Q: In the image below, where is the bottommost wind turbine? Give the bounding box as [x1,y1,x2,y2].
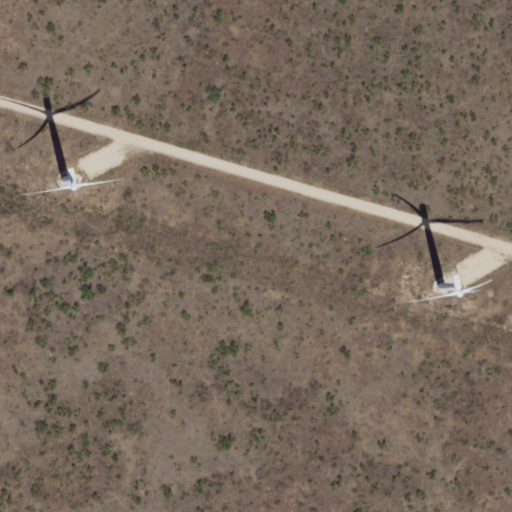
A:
[406,276,506,306]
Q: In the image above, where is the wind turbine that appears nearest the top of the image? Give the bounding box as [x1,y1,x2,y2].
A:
[28,168,126,192]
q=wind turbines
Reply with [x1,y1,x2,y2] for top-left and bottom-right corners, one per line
[406,276,506,306]
[28,168,126,192]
